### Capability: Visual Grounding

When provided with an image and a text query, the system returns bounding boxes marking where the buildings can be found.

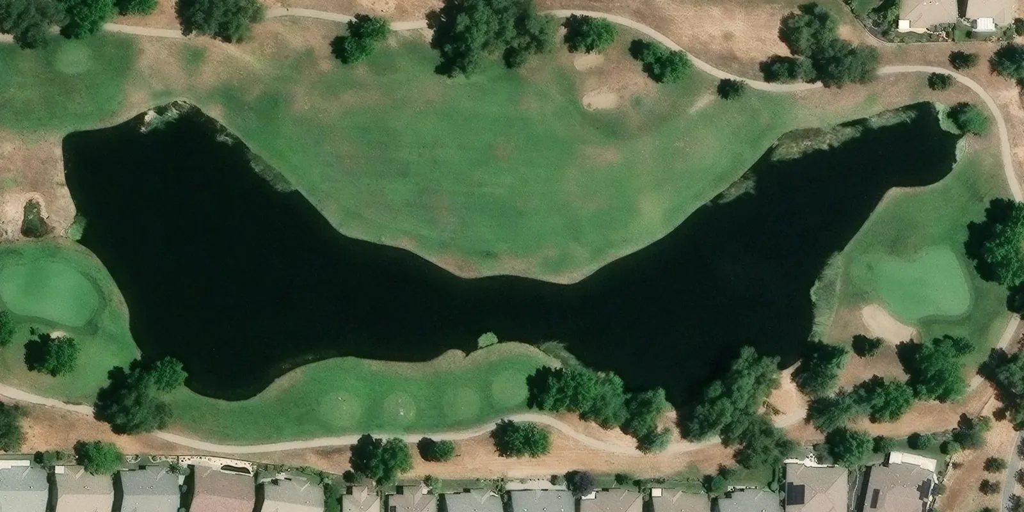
[580,489,643,512]
[966,0,1018,26]
[121,466,181,512]
[651,489,712,512]
[898,0,958,29]
[718,490,785,512]
[510,489,577,512]
[445,488,505,512]
[342,486,380,512]
[0,466,49,512]
[260,475,324,512]
[786,466,848,512]
[857,460,932,512]
[190,467,255,512]
[389,486,437,512]
[56,466,113,512]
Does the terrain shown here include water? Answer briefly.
Yes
